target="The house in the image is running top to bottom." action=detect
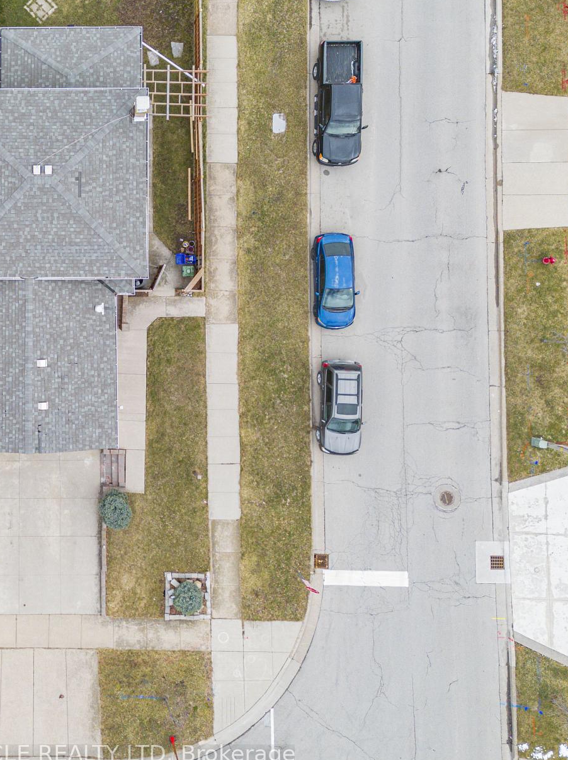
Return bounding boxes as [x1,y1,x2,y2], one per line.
[0,24,200,453]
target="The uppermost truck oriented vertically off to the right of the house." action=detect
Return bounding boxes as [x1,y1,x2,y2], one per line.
[311,40,364,165]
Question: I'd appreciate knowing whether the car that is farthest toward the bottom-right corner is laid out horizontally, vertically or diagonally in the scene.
vertically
